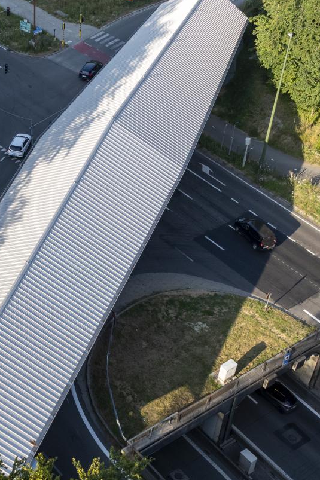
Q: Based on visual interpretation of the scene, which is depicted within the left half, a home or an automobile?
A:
automobile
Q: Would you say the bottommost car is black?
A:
Yes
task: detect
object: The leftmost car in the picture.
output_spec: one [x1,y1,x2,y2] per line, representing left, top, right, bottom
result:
[4,136,33,160]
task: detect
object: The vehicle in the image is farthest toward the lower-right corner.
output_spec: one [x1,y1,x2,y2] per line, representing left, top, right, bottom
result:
[254,380,308,422]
